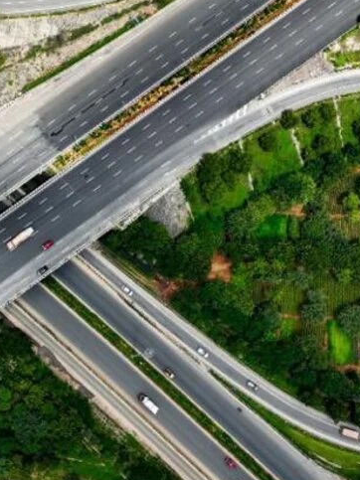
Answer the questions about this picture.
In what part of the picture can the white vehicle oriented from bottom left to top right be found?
left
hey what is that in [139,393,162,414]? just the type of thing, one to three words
vehicle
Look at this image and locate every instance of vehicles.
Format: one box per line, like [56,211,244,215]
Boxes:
[246,380,260,391]
[121,284,133,295]
[139,393,162,414]
[36,264,50,276]
[198,347,210,358]
[41,240,54,250]
[163,367,175,379]
[225,458,238,470]
[340,426,360,439]
[9,227,35,248]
